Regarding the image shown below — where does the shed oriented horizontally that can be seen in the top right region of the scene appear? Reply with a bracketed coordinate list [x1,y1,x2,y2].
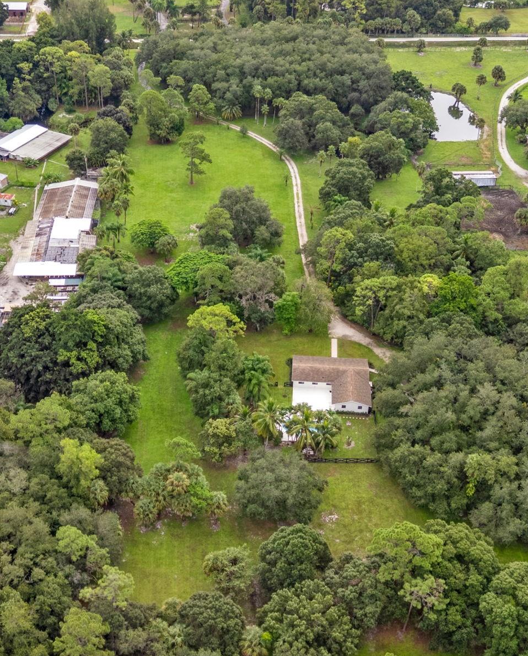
[449,170,496,189]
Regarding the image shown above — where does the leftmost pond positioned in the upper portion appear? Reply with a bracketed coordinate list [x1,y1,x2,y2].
[425,92,482,141]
